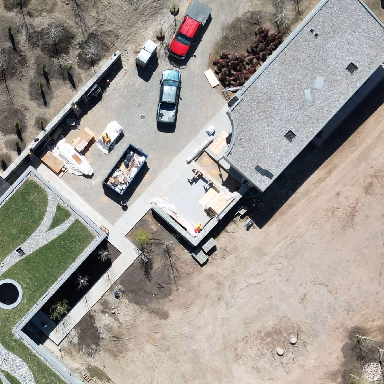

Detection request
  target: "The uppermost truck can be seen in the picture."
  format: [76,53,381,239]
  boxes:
[168,0,211,62]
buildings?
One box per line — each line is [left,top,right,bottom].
[221,0,384,192]
[0,166,105,384]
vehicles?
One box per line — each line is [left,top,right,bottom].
[168,0,211,62]
[156,67,183,127]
